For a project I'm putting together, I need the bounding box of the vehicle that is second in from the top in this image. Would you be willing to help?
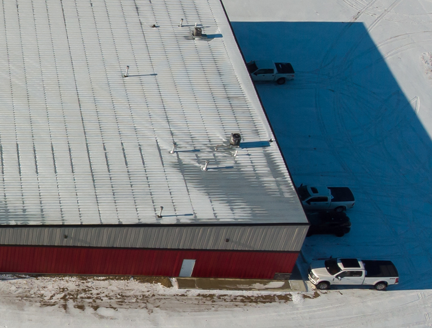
[298,184,358,213]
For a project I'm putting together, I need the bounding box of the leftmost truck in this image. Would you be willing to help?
[248,59,296,84]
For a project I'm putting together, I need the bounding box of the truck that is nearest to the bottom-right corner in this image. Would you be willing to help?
[309,259,397,292]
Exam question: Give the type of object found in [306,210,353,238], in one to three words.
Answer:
car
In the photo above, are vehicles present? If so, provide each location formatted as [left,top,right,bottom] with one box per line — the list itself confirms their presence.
[309,259,397,292]
[248,59,296,84]
[298,184,358,213]
[306,210,353,238]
